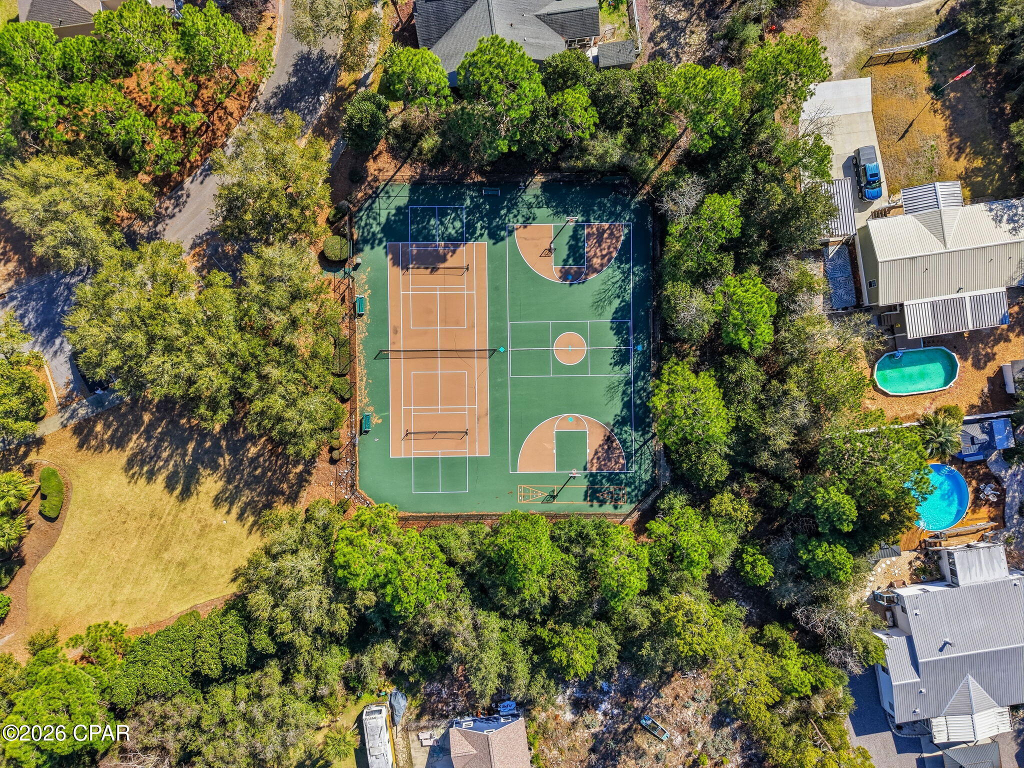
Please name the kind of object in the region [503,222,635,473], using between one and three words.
basketball court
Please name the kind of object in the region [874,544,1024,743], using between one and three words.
house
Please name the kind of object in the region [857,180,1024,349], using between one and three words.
house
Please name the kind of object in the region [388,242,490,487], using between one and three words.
tennis court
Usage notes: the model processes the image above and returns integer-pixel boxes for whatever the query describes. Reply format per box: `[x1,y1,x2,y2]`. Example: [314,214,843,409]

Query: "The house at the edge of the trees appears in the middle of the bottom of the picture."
[449,712,528,768]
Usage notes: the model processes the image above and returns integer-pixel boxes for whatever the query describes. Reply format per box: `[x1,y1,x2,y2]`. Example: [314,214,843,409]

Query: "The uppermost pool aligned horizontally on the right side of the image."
[868,346,960,395]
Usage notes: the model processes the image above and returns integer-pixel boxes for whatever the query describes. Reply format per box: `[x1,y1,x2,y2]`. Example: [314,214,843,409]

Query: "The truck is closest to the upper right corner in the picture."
[854,147,884,204]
